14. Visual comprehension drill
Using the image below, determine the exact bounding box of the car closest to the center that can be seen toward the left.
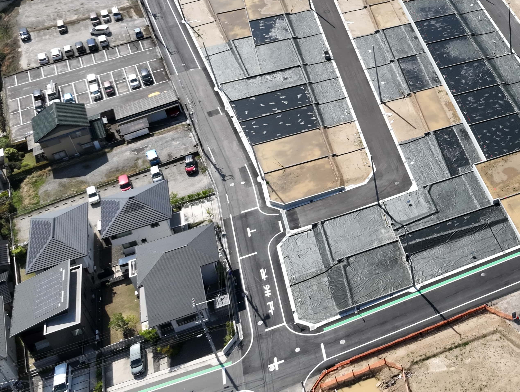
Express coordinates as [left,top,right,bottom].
[184,155,198,173]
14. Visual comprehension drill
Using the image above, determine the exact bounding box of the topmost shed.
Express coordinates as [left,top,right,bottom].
[111,86,179,123]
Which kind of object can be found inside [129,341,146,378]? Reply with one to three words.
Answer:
car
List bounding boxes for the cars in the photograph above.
[129,341,146,378]
[33,87,45,101]
[44,81,59,100]
[53,364,71,392]
[75,40,85,54]
[57,19,68,32]
[139,66,153,85]
[89,24,113,35]
[146,149,160,166]
[111,3,122,19]
[118,173,132,192]
[86,37,97,51]
[63,43,74,56]
[85,184,101,203]
[184,155,198,173]
[36,51,51,67]
[88,72,98,83]
[128,72,141,90]
[34,98,45,114]
[100,8,111,21]
[119,251,130,274]
[98,34,109,46]
[103,79,114,95]
[63,90,75,103]
[133,25,143,38]
[89,81,102,100]
[19,26,31,41]
[91,12,100,24]
[51,46,61,59]
[149,164,166,182]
